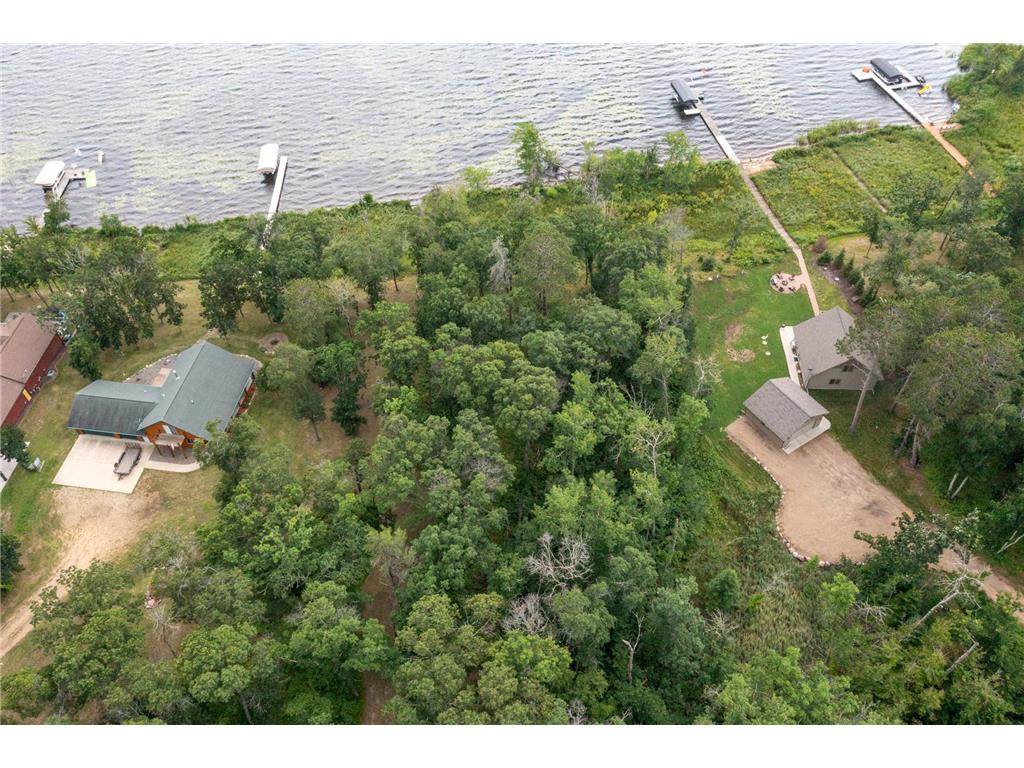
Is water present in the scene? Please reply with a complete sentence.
Yes, water can be seen from above here.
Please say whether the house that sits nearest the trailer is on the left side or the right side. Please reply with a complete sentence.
The house that sits nearest the trailer is on the left side of the image.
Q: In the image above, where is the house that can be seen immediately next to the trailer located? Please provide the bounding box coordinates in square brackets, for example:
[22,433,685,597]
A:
[64,342,258,458]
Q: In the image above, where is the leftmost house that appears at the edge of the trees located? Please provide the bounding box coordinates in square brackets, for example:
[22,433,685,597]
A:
[0,317,57,432]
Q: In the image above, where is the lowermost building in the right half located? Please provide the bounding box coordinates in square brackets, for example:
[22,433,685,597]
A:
[743,377,829,450]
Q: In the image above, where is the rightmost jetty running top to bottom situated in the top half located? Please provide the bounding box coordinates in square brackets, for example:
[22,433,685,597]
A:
[260,155,288,243]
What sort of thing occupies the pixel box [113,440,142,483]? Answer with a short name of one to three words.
trailer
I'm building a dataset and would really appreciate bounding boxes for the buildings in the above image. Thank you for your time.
[64,342,258,458]
[0,317,57,432]
[743,377,829,450]
[791,308,891,393]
